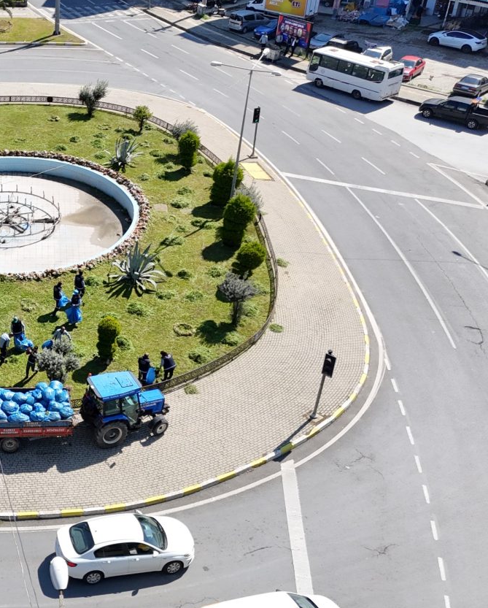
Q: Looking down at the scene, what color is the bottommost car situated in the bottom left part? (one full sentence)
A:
The color of the bottommost car situated in the bottom left part is white.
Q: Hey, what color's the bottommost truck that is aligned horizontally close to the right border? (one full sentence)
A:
In this view, the bottommost truck that is aligned horizontally close to the right border is black.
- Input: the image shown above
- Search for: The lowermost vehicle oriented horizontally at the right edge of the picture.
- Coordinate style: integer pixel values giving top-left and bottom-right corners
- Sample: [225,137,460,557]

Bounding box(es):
[415,92,488,129]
